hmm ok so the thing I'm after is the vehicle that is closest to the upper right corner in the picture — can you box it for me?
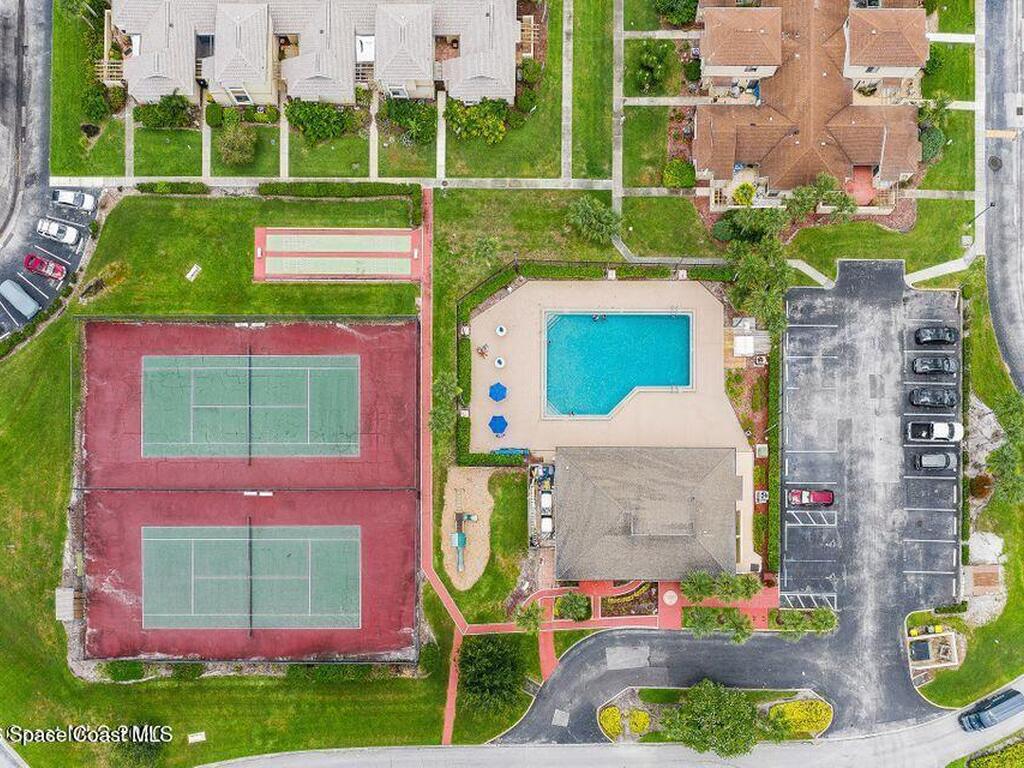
[914,326,959,345]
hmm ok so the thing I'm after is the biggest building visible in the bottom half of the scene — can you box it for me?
[555,447,742,581]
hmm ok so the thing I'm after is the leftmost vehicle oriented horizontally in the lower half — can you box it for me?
[786,488,832,507]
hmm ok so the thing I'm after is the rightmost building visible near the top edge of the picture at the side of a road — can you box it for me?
[693,0,928,190]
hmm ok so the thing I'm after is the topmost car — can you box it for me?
[52,190,99,213]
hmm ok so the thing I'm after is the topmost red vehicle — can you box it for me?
[23,253,70,280]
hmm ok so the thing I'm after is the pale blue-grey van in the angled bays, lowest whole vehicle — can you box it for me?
[0,276,42,322]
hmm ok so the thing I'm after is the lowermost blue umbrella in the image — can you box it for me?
[490,415,507,435]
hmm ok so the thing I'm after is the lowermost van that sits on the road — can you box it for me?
[960,688,1024,732]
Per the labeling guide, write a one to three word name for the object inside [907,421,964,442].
truck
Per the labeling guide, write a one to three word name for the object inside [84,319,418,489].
tennis court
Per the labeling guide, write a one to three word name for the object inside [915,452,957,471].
car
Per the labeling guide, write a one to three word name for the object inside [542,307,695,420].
swimming pool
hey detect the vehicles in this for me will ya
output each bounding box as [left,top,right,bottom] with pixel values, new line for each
[52,190,99,213]
[36,219,83,246]
[541,513,552,534]
[23,253,70,280]
[907,421,964,442]
[786,488,832,507]
[541,490,552,513]
[960,688,1024,732]
[0,276,42,322]
[915,452,957,471]
[914,326,959,345]
[909,388,958,409]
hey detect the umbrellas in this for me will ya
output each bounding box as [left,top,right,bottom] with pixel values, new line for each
[490,415,507,435]
[489,382,507,402]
